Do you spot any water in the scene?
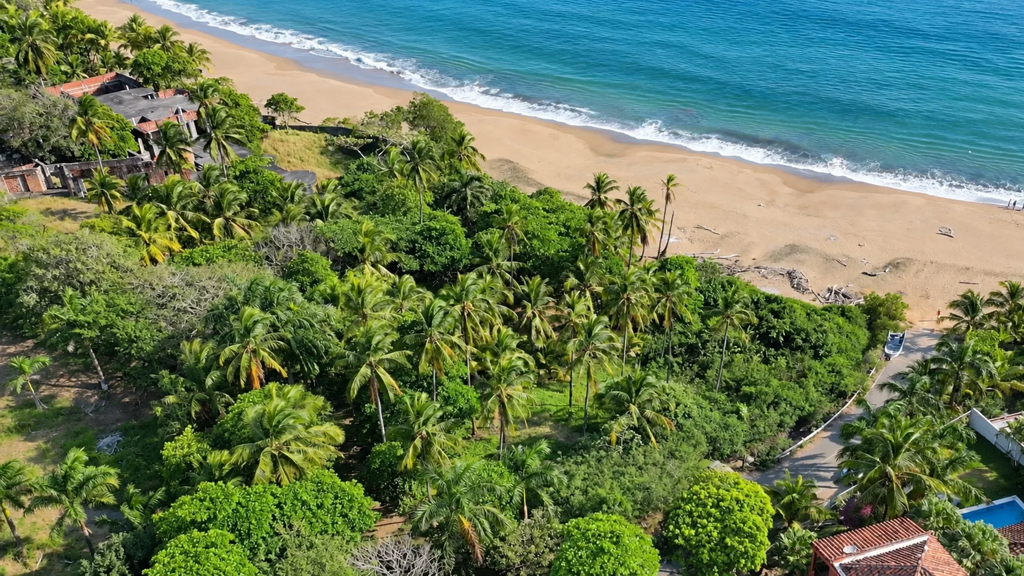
Yes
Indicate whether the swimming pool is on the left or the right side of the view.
right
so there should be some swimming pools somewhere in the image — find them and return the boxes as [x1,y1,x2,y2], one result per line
[963,493,1024,536]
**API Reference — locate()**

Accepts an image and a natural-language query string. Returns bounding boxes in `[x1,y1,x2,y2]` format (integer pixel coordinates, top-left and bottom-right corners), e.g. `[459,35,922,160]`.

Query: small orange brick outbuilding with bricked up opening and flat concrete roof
[0,158,59,194]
